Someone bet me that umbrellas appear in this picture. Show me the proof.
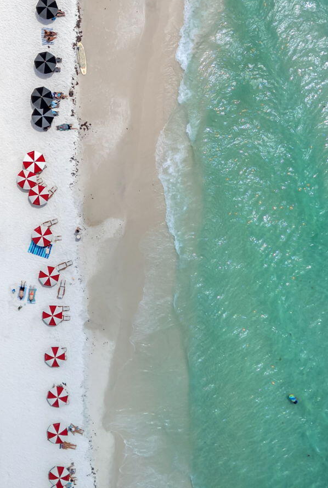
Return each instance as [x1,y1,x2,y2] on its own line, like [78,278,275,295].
[35,0,59,21]
[29,184,50,206]
[32,109,55,130]
[23,152,45,174]
[18,170,37,190]
[47,421,68,442]
[49,466,70,487]
[38,266,59,287]
[34,53,57,76]
[31,87,54,110]
[43,304,64,324]
[46,347,66,367]
[48,385,69,406]
[32,225,53,246]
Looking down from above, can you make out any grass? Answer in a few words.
No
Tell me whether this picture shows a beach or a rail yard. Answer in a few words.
beach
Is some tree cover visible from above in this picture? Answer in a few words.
No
